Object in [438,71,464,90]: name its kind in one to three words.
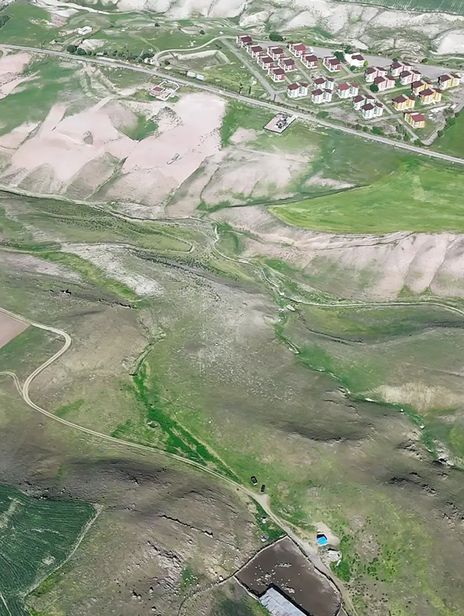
house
